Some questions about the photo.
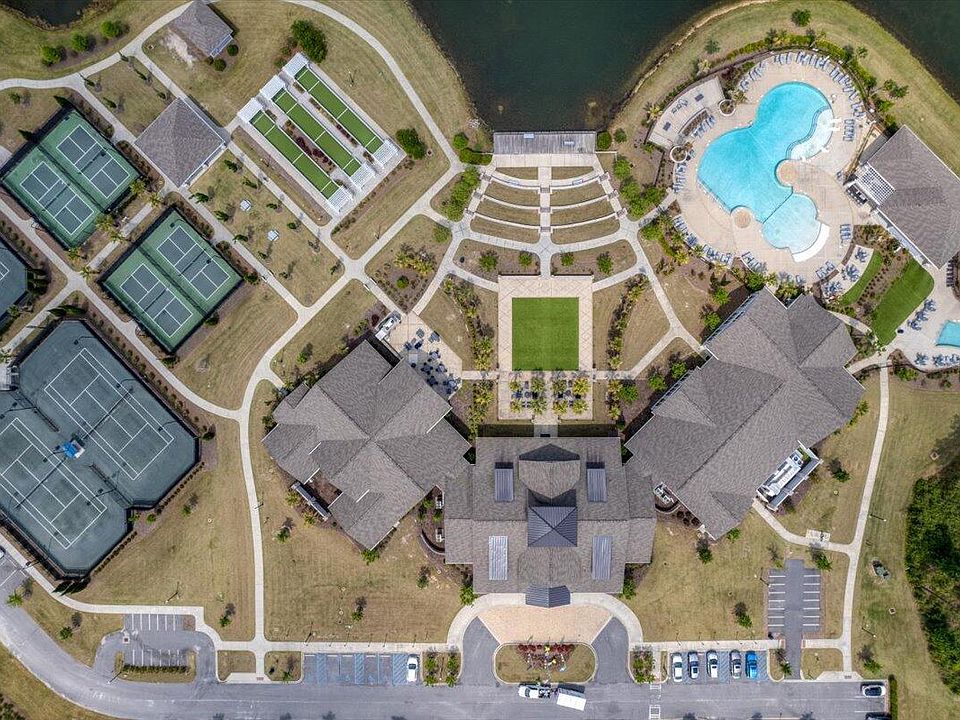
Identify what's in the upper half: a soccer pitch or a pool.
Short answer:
pool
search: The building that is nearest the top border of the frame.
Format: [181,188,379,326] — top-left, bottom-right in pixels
[168,0,238,61]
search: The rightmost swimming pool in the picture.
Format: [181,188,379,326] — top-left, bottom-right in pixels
[935,319,960,350]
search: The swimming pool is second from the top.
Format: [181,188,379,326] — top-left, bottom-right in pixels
[760,192,830,262]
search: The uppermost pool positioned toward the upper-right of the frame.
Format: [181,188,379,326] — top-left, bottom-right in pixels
[696,81,834,224]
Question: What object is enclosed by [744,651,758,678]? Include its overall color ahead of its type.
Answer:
blue car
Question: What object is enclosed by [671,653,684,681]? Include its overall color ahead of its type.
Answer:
white vehicle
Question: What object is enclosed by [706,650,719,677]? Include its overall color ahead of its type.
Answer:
white vehicle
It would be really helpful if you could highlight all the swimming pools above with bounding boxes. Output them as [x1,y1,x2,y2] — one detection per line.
[760,192,830,262]
[696,81,834,224]
[935,319,960,350]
